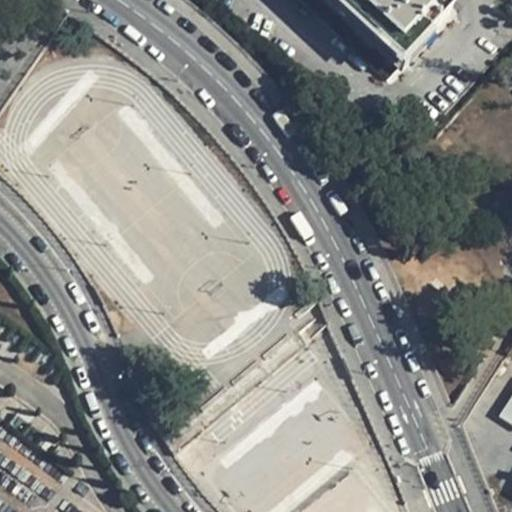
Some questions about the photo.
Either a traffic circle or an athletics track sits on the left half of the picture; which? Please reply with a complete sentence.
Visible on the left half of the picture is an athletics track.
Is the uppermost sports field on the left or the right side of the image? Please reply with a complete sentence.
It is on the left.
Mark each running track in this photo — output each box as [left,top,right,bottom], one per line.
[2,63,291,368]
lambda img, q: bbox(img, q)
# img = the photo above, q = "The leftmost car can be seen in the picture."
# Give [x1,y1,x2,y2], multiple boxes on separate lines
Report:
[5,251,25,273]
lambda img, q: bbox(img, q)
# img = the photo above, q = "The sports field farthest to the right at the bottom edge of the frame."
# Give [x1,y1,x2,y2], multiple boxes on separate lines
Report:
[194,348,402,512]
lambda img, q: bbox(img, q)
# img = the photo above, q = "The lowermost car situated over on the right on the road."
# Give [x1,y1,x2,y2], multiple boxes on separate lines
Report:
[424,470,438,488]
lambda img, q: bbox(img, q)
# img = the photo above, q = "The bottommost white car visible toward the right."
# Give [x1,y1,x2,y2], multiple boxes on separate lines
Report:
[395,436,410,456]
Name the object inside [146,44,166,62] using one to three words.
car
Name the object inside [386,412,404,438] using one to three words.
vehicle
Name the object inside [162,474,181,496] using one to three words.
car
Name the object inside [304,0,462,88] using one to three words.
building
